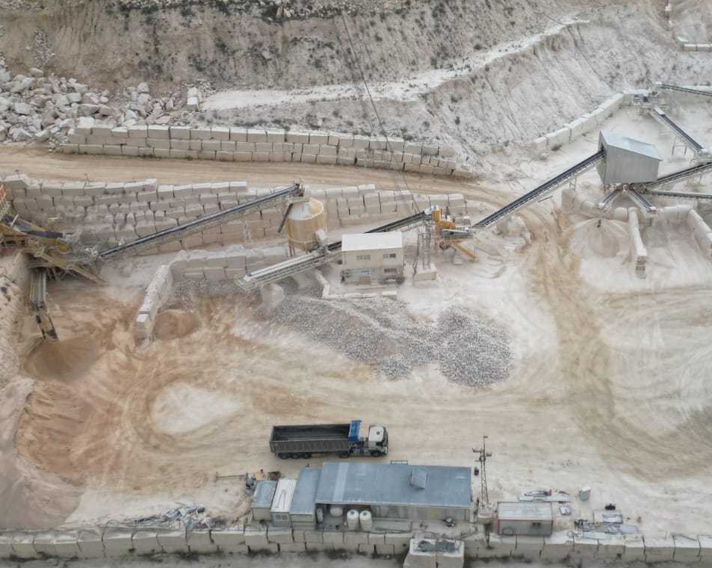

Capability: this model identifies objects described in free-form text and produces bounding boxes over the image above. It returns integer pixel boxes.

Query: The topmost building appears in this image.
[589,129,662,203]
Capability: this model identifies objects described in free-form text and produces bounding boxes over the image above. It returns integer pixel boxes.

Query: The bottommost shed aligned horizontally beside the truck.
[314,460,470,523]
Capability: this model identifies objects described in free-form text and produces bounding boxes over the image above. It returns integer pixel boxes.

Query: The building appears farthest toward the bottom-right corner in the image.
[496,498,554,535]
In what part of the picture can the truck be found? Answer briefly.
bottom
